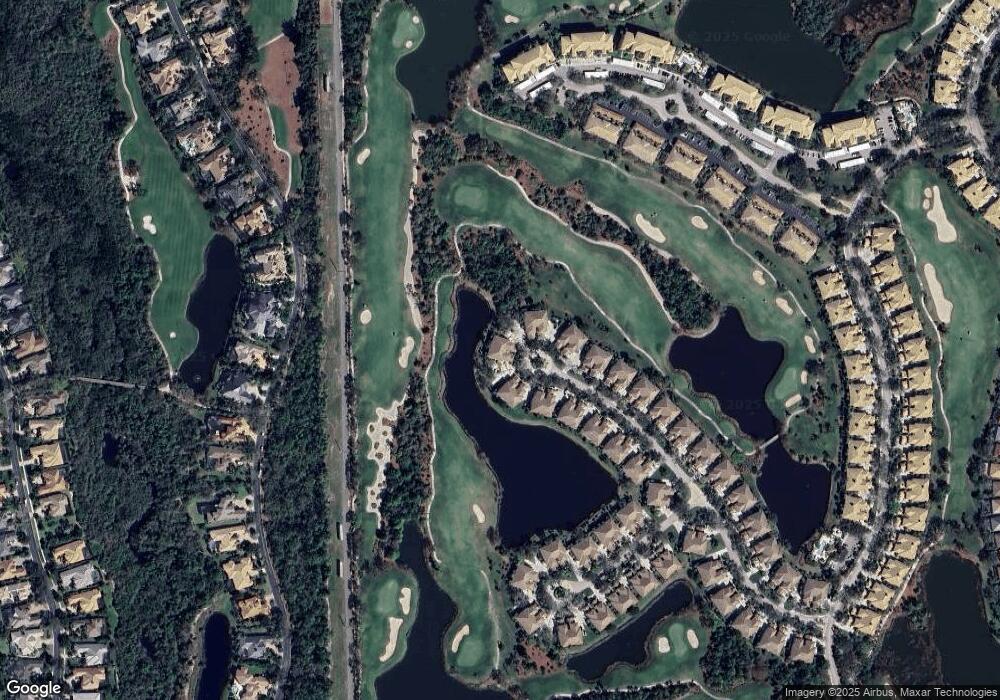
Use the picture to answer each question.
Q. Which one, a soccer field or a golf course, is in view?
golf course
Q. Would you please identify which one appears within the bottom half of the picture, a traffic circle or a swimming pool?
swimming pool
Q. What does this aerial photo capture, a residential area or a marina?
residential area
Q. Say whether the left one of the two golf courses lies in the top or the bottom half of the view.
top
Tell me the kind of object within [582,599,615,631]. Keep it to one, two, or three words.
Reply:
house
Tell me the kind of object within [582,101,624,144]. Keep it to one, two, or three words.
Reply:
building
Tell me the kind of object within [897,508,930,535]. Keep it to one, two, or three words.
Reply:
house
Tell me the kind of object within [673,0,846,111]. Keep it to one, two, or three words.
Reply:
pond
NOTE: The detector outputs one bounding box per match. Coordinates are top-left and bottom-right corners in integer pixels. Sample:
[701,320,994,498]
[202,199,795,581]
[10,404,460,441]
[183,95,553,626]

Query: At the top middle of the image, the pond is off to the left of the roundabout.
[396,0,481,122]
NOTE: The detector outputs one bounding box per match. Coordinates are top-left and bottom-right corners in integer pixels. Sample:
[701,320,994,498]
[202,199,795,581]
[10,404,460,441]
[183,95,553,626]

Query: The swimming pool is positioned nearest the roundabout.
[679,51,710,78]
